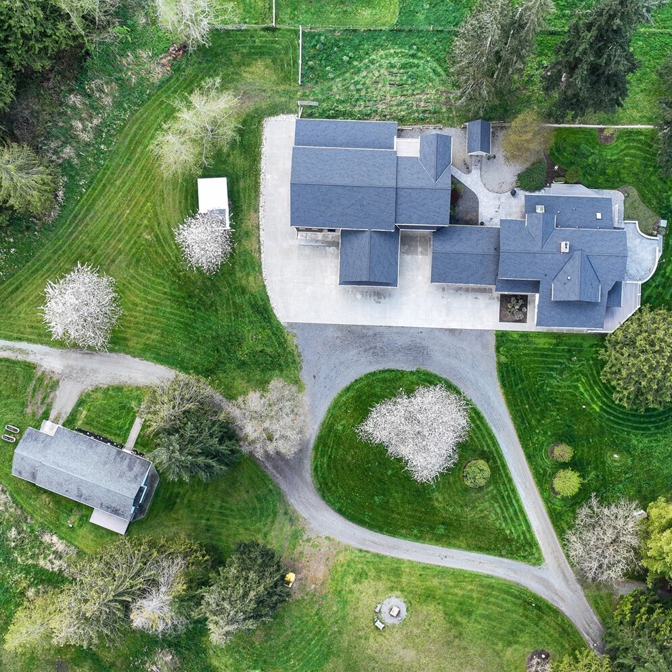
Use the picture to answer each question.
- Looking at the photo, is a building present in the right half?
Yes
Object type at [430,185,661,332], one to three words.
house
